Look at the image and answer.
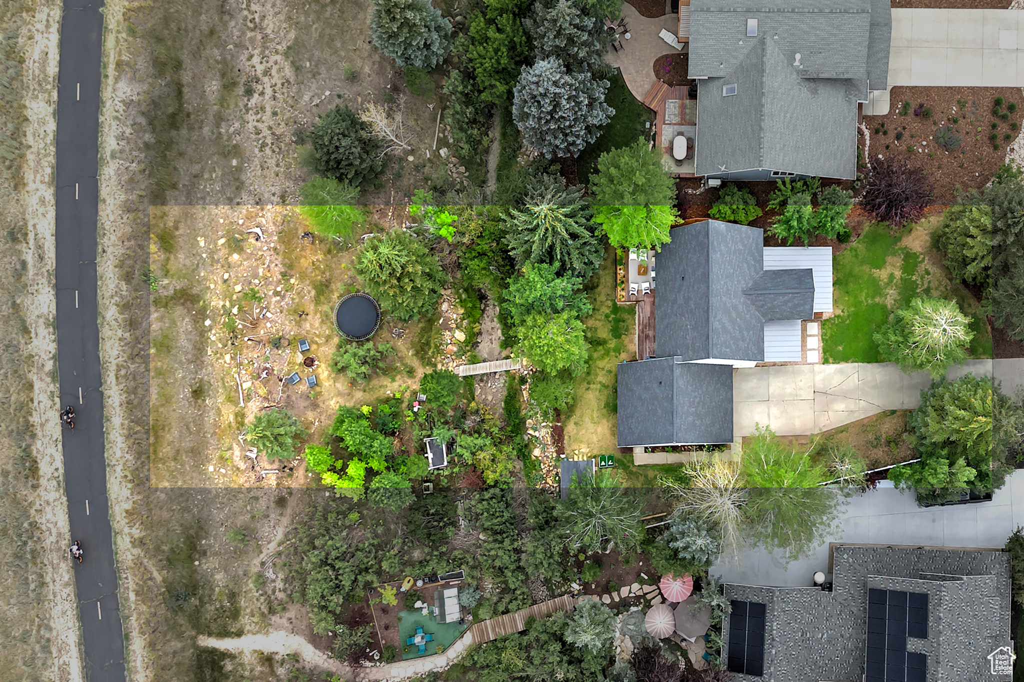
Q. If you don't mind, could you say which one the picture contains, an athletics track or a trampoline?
trampoline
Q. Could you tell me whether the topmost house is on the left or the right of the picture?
right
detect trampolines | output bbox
[333,293,381,341]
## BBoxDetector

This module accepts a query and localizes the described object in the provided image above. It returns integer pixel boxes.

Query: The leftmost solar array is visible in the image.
[730,601,765,676]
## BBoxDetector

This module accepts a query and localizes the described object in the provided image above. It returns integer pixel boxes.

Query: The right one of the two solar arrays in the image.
[867,589,928,682]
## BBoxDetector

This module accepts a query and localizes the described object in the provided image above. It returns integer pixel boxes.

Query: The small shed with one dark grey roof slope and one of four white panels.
[429,590,462,628]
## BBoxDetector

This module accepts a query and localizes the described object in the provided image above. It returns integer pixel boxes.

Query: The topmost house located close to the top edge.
[687,0,893,183]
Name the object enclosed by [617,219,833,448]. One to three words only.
house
